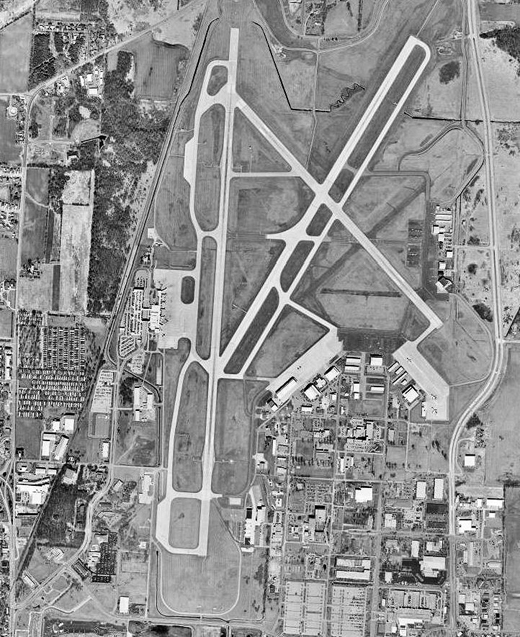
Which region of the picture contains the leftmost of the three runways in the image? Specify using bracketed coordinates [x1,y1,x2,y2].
[199,28,239,556]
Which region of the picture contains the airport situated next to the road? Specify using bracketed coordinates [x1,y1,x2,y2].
[147,0,490,621]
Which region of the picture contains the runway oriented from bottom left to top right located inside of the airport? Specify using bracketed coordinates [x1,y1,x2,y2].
[218,36,418,375]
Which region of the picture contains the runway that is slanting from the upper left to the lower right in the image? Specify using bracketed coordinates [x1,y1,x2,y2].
[236,90,443,329]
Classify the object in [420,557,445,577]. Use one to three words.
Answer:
building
